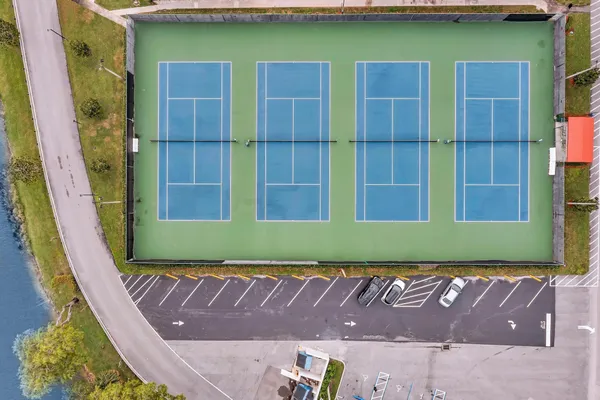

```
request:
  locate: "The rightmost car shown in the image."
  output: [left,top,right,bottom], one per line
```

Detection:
[438,276,465,307]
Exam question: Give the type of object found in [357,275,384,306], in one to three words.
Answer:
car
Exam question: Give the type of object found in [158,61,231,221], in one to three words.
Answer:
tennis court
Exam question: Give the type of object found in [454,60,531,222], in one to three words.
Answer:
tennis court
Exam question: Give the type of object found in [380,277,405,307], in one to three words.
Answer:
car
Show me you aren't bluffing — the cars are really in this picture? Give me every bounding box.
[357,275,384,306]
[380,277,405,307]
[438,276,465,307]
